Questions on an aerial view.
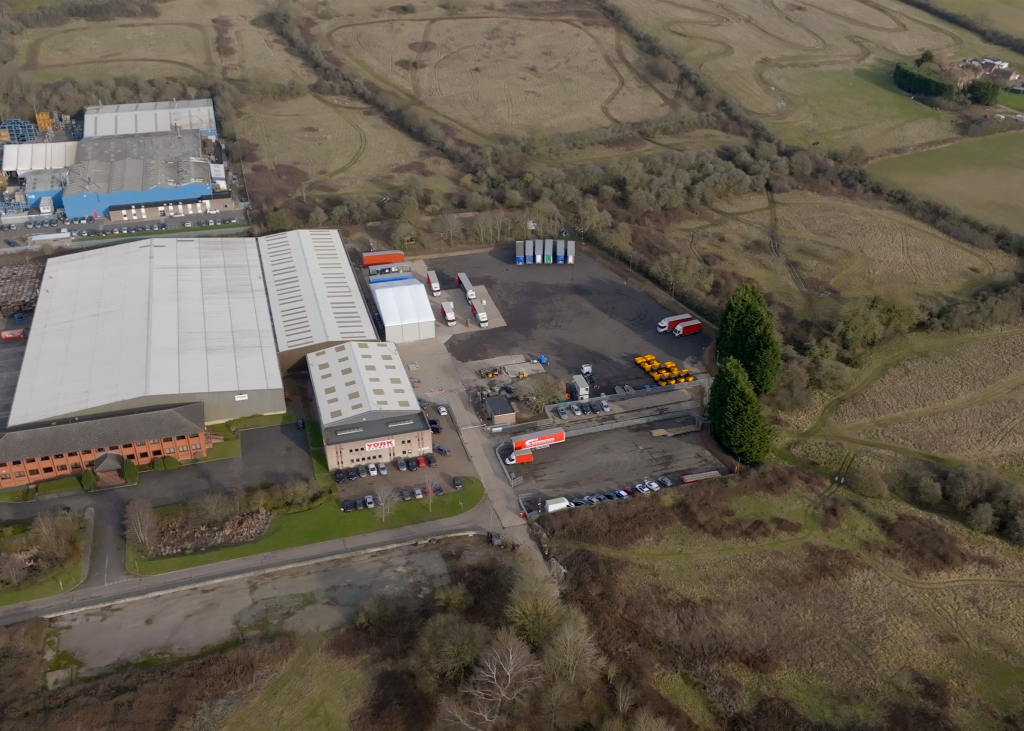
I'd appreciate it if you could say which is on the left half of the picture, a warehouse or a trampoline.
warehouse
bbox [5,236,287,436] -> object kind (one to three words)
warehouse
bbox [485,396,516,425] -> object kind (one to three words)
shed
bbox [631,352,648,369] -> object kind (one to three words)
vehicle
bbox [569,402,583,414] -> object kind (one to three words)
vehicle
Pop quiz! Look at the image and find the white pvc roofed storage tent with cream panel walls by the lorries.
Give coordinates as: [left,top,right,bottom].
[367,275,438,342]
